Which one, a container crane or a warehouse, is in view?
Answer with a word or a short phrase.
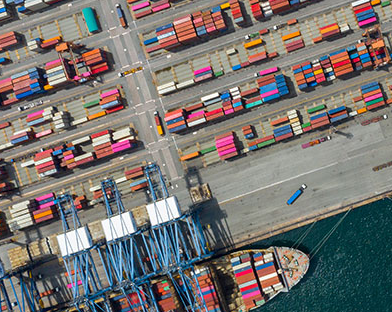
container crane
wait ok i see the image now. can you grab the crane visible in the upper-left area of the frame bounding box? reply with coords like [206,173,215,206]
[52,40,93,86]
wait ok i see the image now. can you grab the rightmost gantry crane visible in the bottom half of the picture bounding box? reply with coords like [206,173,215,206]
[141,163,215,312]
